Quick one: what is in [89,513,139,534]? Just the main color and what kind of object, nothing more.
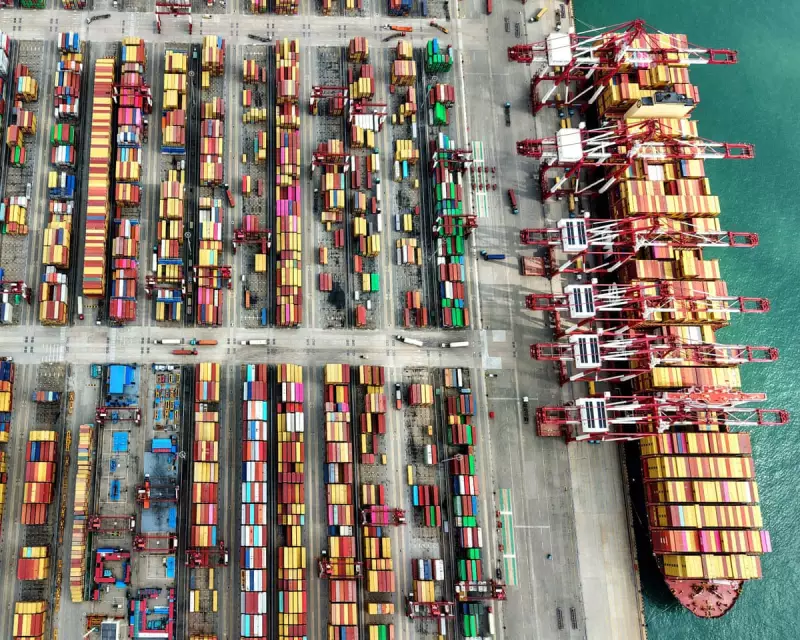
red container crane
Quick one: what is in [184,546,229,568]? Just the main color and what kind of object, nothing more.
red container crane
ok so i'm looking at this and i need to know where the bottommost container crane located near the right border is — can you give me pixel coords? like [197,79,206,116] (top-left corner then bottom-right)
[534,388,795,445]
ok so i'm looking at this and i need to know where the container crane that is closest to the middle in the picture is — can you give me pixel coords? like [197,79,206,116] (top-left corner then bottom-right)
[429,215,480,241]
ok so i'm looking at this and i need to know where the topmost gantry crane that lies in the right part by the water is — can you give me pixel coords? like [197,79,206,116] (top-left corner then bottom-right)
[505,20,735,108]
